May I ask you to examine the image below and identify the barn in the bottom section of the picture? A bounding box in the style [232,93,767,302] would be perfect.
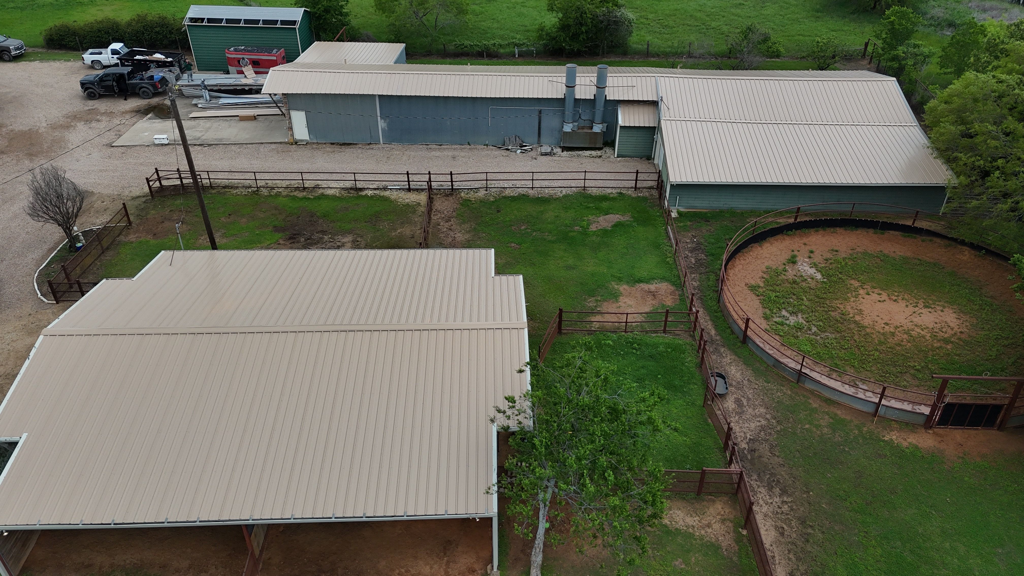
[0,245,534,576]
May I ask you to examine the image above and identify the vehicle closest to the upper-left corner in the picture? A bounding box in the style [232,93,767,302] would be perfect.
[0,31,31,61]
